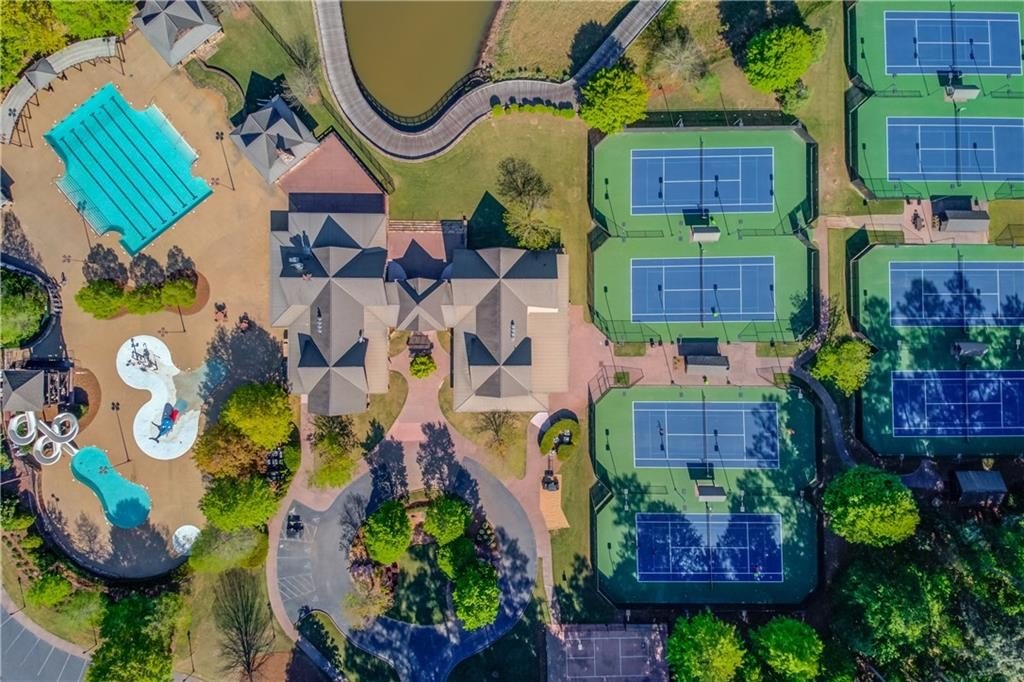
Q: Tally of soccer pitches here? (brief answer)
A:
zero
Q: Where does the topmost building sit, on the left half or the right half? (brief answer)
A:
left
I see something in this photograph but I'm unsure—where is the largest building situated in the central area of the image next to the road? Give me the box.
[271,213,569,416]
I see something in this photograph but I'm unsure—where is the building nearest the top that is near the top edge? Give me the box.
[132,0,227,72]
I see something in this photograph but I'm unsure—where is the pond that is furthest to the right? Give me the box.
[341,0,497,134]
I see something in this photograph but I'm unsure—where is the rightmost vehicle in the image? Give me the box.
[542,454,557,490]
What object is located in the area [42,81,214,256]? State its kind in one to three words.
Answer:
swimming pool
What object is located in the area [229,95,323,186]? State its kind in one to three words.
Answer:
building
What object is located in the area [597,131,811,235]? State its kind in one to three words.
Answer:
tennis court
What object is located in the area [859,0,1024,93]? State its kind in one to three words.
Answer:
tennis court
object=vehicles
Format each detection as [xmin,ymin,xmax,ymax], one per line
[542,454,557,490]
[285,526,304,538]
